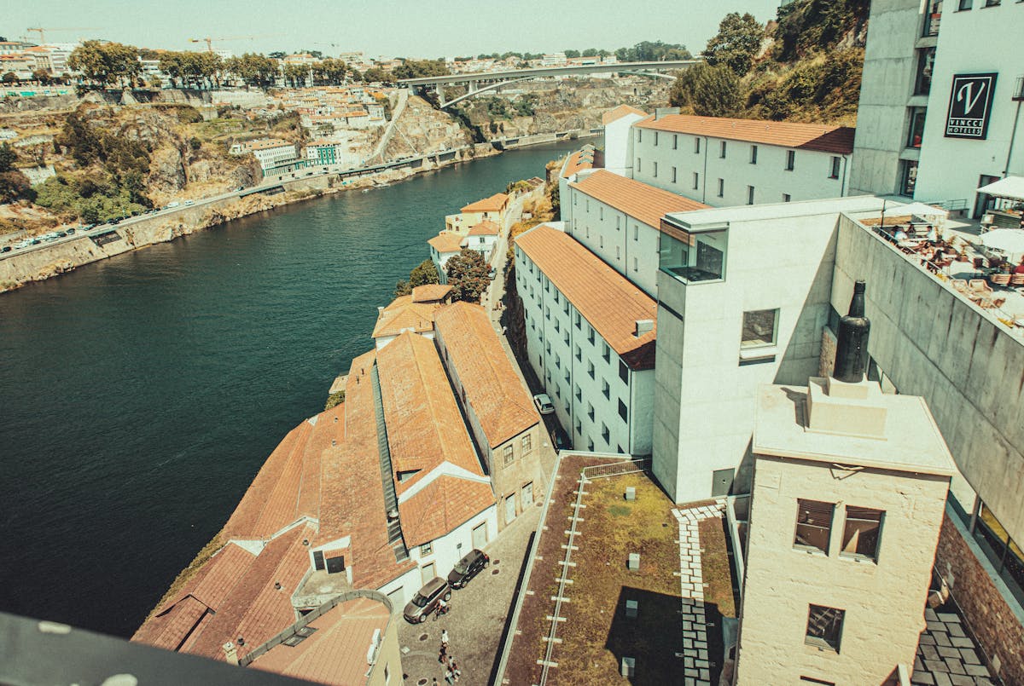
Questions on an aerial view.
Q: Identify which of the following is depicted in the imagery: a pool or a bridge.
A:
bridge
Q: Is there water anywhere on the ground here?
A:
Yes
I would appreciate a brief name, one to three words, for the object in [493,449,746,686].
building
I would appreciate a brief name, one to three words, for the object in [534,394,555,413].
car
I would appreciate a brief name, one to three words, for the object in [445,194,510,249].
house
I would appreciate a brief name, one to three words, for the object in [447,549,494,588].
car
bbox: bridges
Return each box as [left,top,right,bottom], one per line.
[383,60,707,111]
